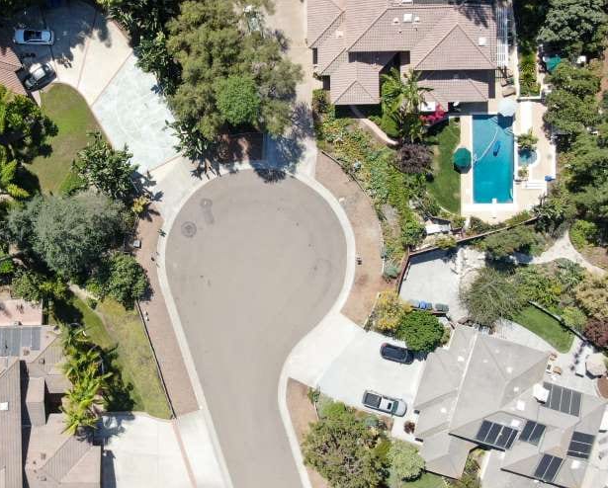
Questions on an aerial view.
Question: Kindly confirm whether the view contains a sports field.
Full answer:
No, no sports field is visible in the scene.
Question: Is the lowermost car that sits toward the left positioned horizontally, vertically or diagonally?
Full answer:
The lowermost car that sits toward the left is laid out diagonally.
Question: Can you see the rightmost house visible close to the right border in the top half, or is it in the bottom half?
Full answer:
It is in the bottom half that the rightmost house visible close to the right border appears.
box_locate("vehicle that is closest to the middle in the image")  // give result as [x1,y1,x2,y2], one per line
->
[379,343,415,364]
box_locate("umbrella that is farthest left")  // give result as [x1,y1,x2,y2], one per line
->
[452,150,470,168]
